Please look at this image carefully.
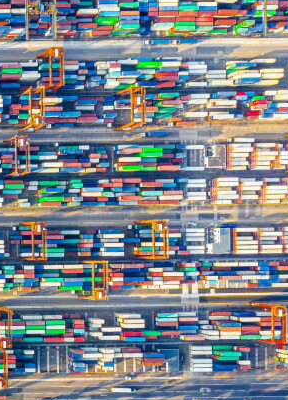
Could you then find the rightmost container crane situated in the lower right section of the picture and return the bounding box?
[250,302,288,346]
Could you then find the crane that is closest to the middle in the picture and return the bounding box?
[136,219,167,260]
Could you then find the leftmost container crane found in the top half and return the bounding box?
[5,136,30,180]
